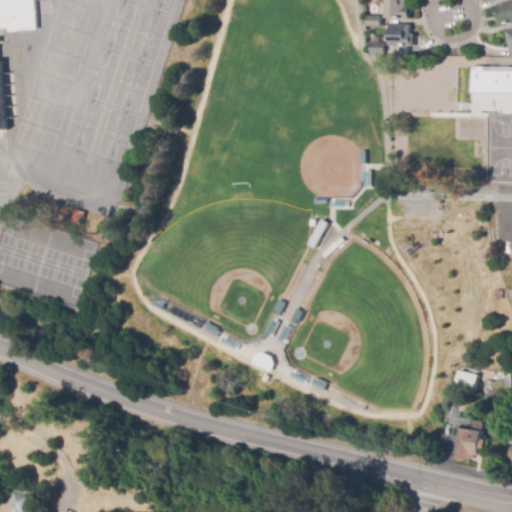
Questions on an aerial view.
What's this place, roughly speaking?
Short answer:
sports ground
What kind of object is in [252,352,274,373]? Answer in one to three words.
building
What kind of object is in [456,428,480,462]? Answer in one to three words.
house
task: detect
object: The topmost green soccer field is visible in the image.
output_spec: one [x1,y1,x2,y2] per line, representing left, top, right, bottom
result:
[142,0,386,260]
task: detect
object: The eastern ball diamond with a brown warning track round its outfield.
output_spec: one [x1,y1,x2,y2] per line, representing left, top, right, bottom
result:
[286,236,425,412]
